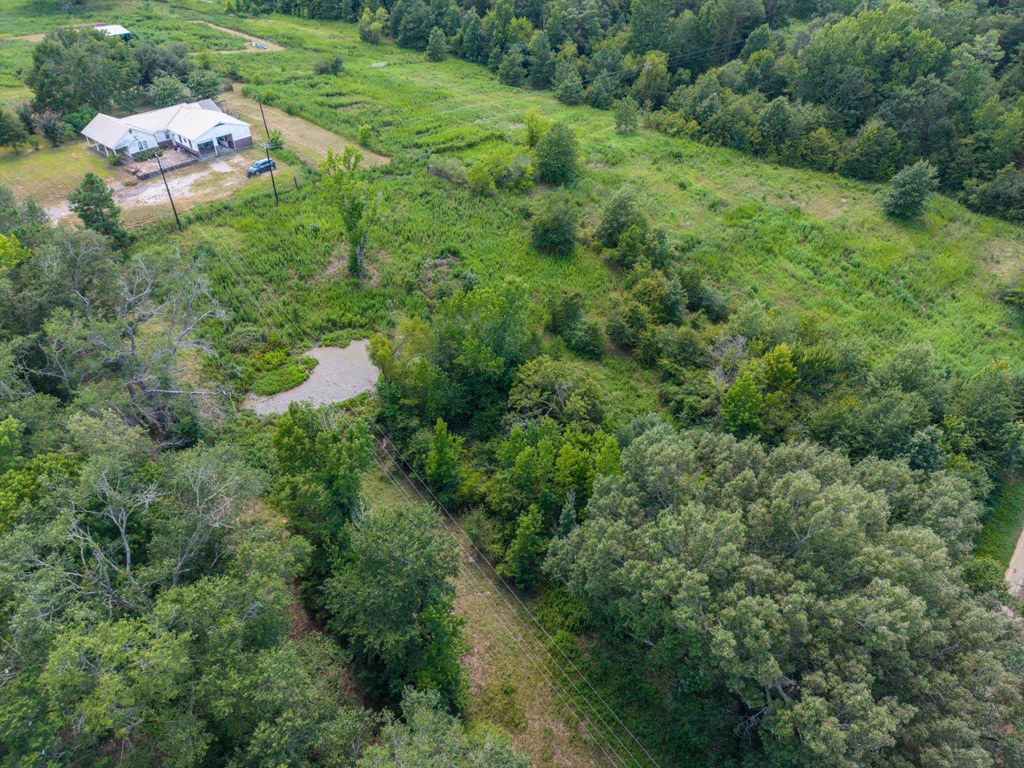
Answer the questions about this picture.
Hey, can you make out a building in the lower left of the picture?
No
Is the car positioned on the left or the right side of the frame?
left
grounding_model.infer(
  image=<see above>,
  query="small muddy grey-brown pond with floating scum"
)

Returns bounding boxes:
[247,342,377,415]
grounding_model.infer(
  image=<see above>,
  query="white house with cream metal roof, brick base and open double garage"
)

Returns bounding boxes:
[80,96,254,166]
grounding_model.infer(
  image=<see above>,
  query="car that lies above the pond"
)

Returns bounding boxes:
[246,155,281,176]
